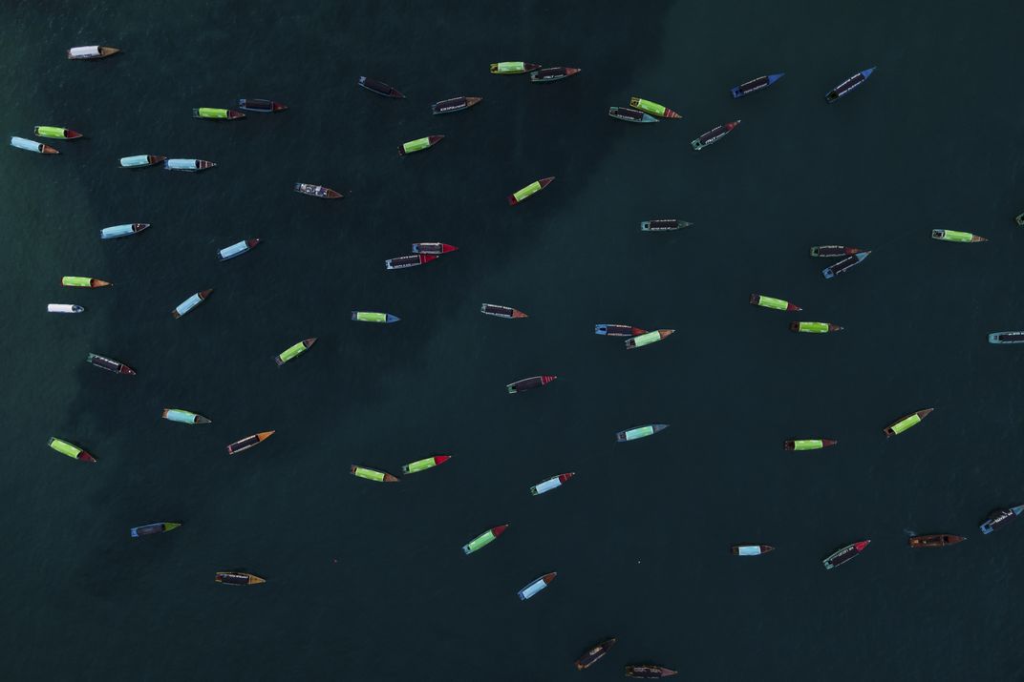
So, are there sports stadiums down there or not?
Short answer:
No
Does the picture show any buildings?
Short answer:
No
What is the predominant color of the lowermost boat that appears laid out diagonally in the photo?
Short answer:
black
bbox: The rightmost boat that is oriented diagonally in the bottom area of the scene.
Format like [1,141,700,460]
[980,503,1024,535]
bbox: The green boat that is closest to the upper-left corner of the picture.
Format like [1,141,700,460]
[33,126,83,139]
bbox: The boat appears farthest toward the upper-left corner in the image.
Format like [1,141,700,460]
[66,46,121,58]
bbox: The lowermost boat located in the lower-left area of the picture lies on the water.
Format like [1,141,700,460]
[214,573,266,585]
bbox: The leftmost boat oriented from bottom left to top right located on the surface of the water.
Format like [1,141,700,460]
[171,289,214,320]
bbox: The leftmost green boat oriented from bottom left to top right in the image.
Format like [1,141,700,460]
[274,337,318,366]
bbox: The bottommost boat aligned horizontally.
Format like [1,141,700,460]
[625,666,677,678]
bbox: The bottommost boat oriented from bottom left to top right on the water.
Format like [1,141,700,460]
[574,639,616,671]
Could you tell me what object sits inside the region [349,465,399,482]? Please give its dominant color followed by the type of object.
green boat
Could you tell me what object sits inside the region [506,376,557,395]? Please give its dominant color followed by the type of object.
black boat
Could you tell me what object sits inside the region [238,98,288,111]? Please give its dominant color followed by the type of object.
black boat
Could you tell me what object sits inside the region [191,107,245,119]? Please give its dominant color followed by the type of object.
green boat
